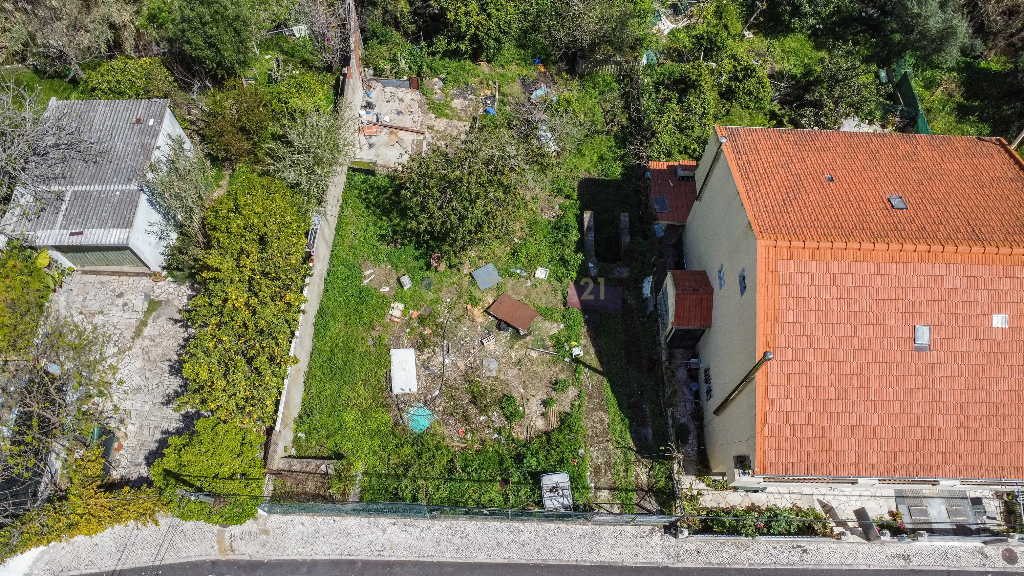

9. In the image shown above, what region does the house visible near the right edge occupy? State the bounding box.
[685,125,1024,504]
